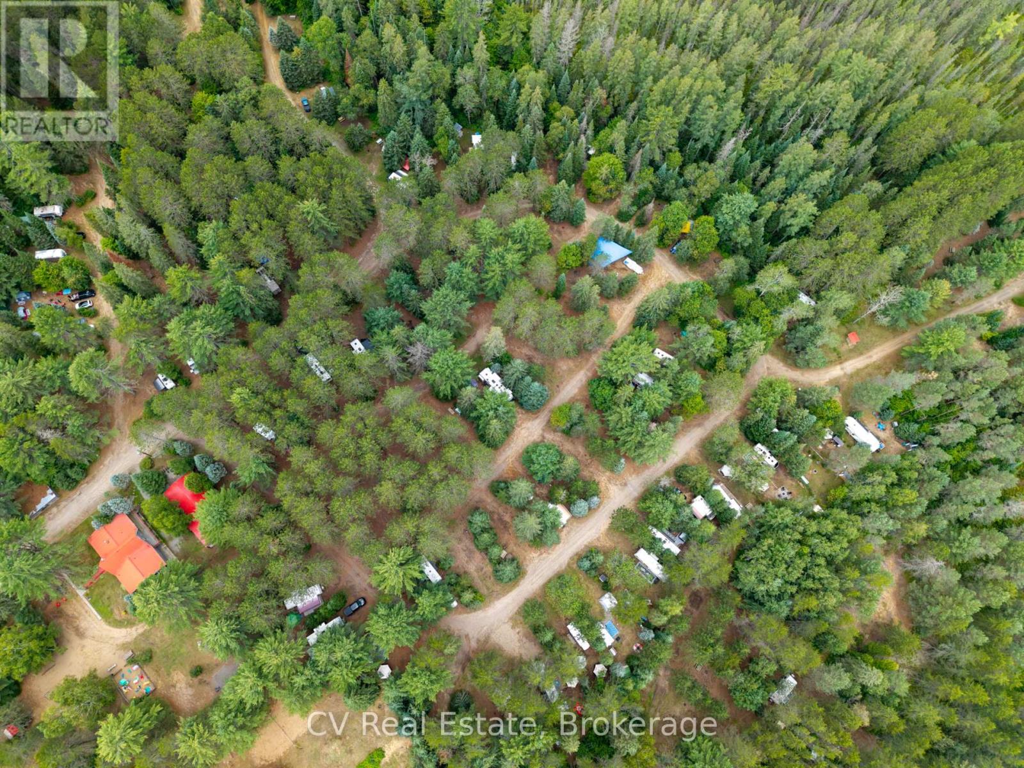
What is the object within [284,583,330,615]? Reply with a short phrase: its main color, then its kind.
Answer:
white trailer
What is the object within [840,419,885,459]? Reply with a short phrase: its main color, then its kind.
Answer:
white trailer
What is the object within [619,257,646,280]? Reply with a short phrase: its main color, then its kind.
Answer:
white camper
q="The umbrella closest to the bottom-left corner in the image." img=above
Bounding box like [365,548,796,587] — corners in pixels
[286,611,301,626]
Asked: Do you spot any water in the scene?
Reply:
No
